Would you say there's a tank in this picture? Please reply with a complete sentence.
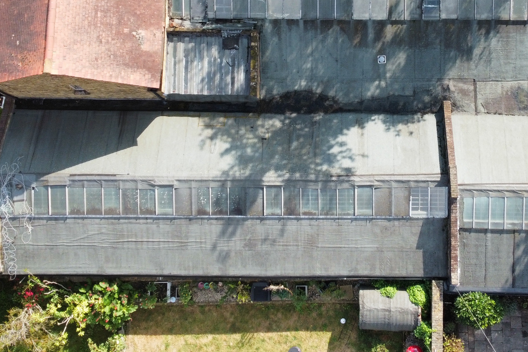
No, the photo shows no tank.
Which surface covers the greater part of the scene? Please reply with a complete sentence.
The scene is dominated by buildings.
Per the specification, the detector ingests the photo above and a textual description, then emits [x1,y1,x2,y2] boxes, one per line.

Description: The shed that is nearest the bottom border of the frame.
[359,288,423,331]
